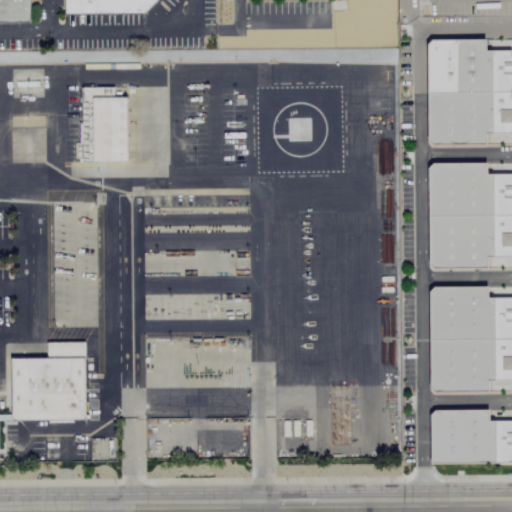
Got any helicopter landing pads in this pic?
Yes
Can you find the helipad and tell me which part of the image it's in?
top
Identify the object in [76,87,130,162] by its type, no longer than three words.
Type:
building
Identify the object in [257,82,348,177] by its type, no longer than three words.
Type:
helipad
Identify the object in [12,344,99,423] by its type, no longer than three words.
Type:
building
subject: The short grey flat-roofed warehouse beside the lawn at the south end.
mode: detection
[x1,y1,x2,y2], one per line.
[430,408,512,464]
